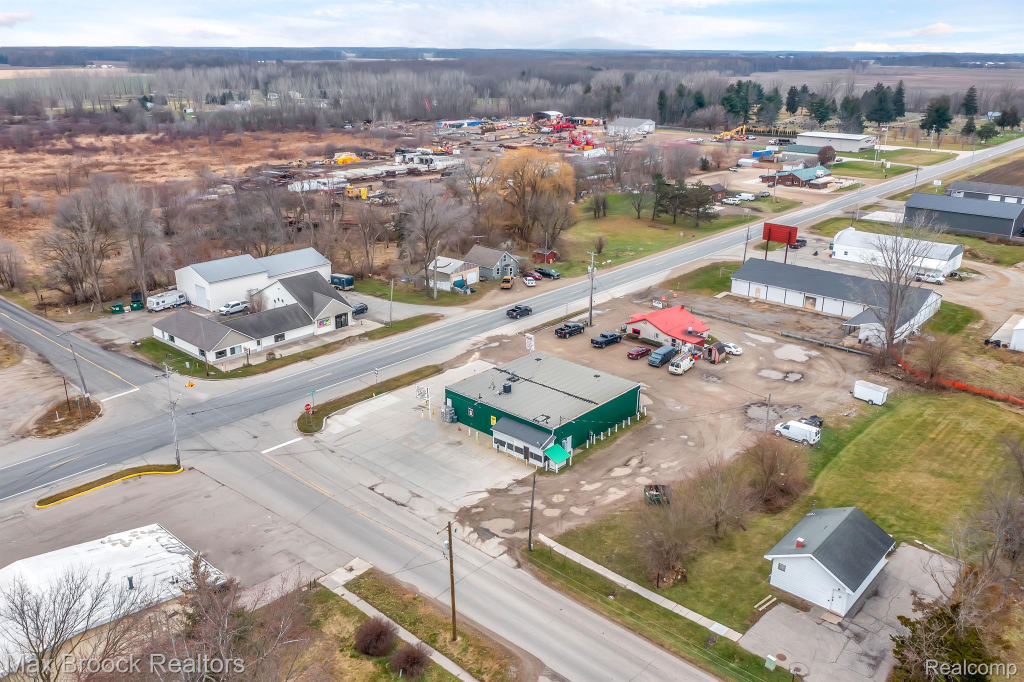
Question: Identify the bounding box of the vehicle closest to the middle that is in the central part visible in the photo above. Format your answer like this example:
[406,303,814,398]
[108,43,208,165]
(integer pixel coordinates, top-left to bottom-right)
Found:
[505,306,533,319]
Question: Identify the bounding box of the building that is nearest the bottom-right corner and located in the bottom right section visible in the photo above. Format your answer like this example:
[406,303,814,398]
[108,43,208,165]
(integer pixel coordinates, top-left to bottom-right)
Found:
[762,500,898,620]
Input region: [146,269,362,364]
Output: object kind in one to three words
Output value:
building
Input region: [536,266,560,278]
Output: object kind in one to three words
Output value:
vehicle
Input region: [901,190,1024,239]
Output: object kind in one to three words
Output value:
building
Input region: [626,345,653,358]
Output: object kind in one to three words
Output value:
vehicle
